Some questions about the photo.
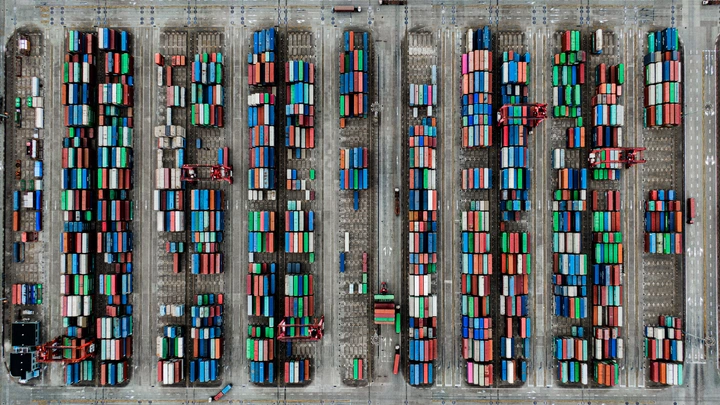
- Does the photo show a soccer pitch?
No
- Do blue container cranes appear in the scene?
No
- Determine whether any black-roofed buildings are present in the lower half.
Yes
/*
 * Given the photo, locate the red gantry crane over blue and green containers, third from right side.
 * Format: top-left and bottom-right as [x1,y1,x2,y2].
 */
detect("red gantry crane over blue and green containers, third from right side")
[494,101,551,131]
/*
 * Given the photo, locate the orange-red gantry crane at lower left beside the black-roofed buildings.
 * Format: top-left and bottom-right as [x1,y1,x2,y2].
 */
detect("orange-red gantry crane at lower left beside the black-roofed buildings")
[33,330,101,364]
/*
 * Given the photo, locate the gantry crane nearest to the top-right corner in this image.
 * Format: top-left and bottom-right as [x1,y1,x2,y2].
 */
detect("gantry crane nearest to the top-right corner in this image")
[586,146,649,172]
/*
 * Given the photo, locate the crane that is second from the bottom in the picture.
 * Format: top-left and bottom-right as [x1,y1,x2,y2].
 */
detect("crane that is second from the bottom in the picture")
[278,309,326,340]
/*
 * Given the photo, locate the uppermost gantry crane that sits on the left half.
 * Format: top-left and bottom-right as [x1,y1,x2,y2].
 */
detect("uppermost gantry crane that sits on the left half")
[178,162,232,188]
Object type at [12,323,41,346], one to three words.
building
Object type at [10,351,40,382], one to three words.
building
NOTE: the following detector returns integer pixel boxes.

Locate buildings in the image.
[10,351,40,382]
[12,323,41,346]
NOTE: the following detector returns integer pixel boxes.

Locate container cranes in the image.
[178,162,232,188]
[278,309,326,340]
[494,101,551,131]
[33,330,101,364]
[586,146,649,172]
